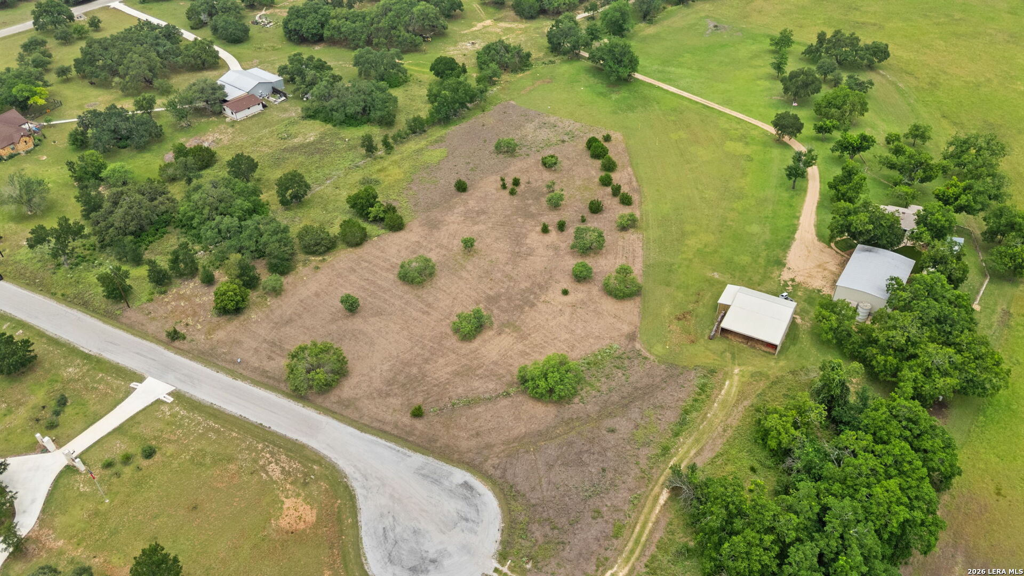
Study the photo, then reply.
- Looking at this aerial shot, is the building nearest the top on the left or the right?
left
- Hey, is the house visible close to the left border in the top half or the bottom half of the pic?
top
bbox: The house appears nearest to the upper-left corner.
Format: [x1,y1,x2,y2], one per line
[0,112,46,155]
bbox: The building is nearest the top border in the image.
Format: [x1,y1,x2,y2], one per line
[216,68,283,101]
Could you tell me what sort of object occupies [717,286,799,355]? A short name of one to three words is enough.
barn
